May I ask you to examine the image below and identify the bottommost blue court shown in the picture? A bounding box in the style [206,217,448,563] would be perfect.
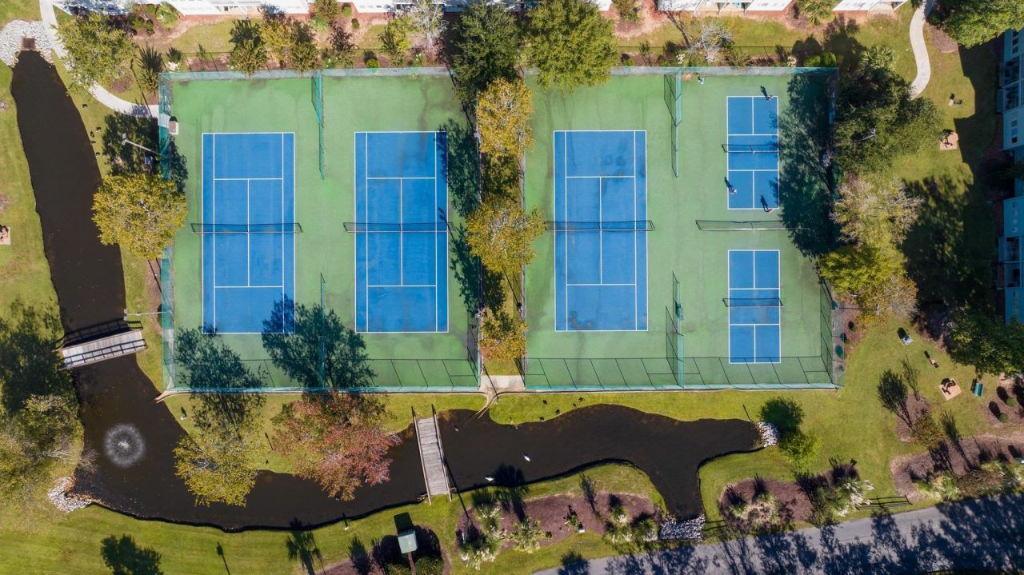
[729,250,781,363]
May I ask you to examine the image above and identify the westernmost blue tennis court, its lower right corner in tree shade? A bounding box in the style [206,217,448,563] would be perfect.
[202,133,295,333]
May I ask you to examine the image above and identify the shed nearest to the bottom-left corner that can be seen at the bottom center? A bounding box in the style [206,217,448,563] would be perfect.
[397,528,418,553]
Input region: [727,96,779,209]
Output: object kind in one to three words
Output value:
sports court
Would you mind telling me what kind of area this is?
sports ground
